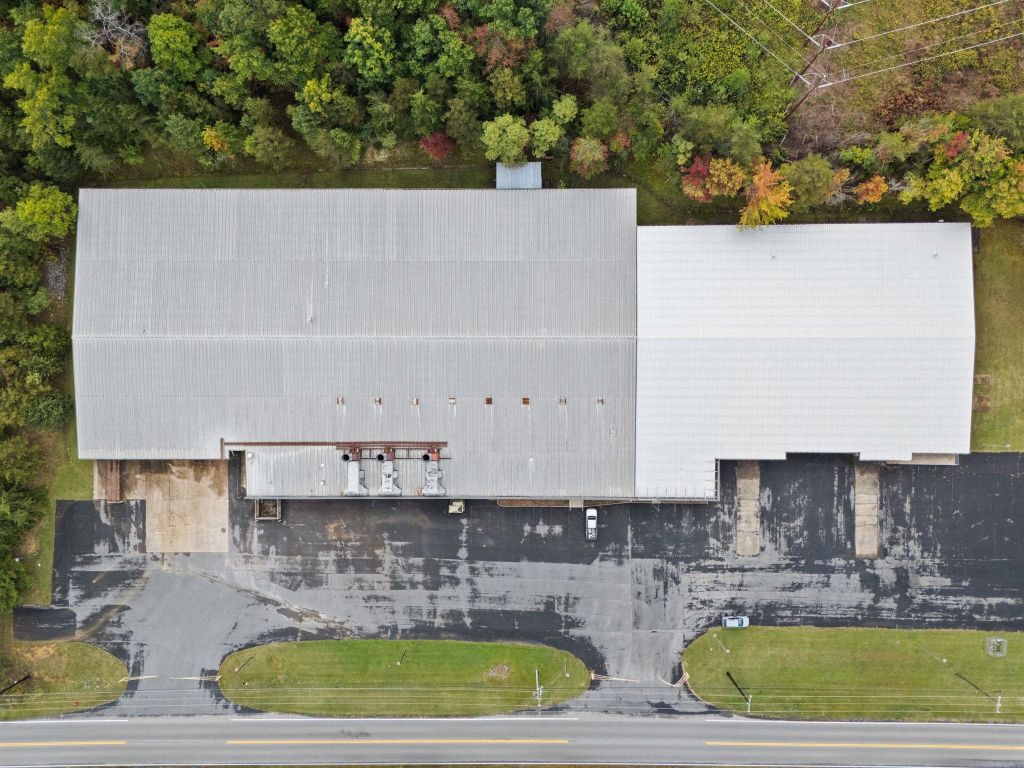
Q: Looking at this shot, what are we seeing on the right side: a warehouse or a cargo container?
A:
warehouse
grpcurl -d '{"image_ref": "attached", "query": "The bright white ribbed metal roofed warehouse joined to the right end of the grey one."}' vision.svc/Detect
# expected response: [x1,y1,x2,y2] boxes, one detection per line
[633,222,976,502]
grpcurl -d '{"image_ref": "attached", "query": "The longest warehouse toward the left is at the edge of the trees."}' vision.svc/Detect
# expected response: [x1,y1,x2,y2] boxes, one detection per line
[71,188,639,502]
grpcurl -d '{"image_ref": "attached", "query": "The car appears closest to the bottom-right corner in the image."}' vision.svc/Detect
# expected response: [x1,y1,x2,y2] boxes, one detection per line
[720,614,748,628]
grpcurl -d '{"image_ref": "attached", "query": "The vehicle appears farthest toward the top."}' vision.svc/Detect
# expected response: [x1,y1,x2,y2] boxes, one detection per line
[585,508,598,540]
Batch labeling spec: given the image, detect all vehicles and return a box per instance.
[720,614,748,628]
[585,508,598,540]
